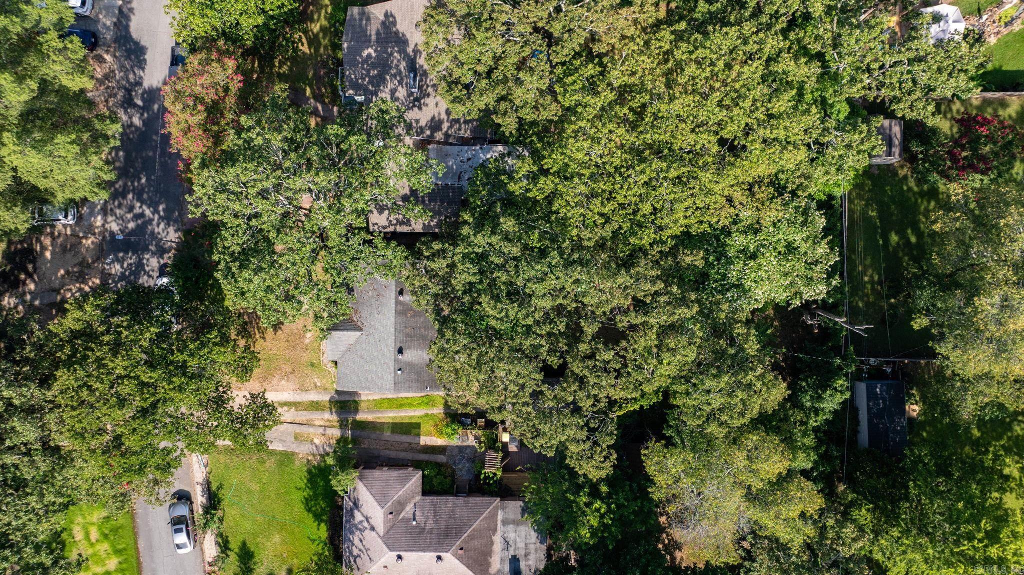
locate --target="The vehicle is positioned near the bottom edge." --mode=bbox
[162,497,193,554]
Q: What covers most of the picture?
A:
trees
